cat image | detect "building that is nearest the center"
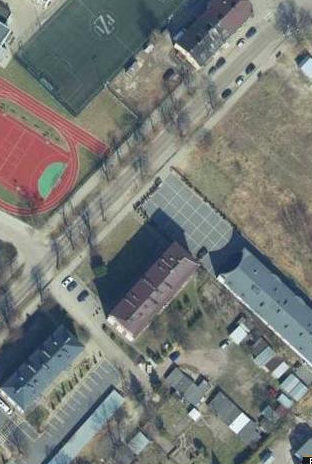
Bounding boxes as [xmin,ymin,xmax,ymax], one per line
[110,242,201,340]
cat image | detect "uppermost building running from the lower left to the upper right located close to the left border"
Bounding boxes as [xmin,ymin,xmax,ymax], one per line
[1,324,85,413]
